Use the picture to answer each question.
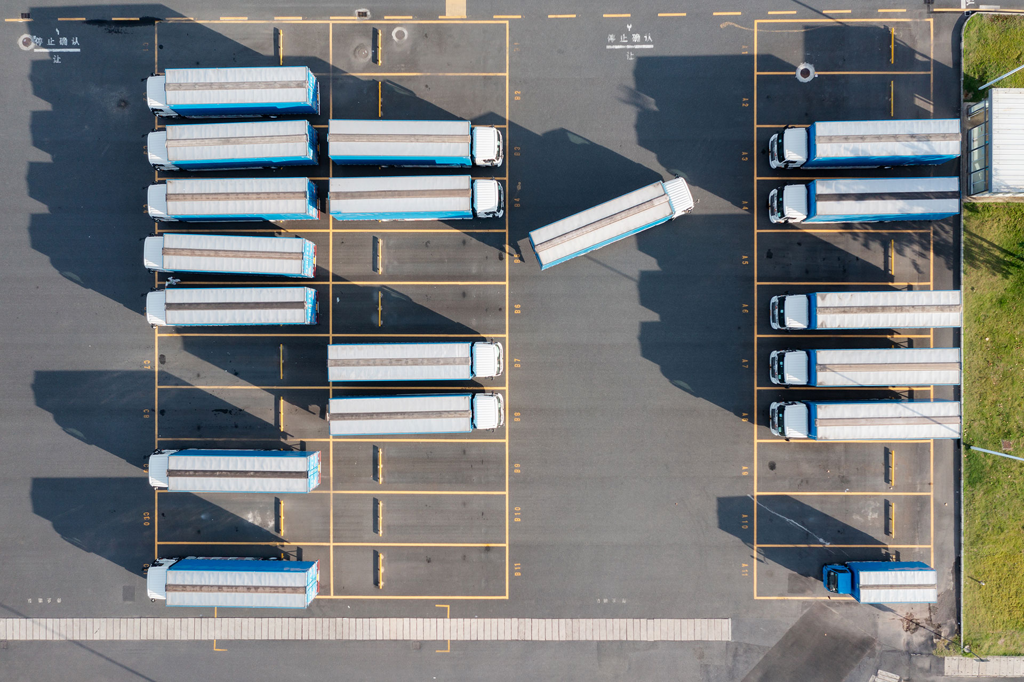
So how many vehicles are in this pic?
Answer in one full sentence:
Altogether the scene contains 18 vehicles.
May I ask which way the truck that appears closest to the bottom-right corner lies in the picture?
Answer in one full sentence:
Seen from above, the truck that appears closest to the bottom-right corner lies horizontally.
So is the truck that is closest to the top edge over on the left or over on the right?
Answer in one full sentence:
It is on the left.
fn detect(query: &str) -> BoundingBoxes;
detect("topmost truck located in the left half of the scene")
[140,66,321,119]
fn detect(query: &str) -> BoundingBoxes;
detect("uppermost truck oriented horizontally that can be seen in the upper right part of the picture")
[768,118,961,168]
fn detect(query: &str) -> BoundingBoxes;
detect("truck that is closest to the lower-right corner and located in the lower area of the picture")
[822,561,937,603]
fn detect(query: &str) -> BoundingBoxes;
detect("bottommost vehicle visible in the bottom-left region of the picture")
[141,557,320,608]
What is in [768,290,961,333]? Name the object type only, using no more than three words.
truck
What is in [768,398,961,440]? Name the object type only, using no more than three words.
truck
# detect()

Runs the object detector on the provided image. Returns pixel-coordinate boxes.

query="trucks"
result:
[327,340,508,381]
[768,398,961,440]
[141,557,320,608]
[328,175,508,221]
[141,177,321,224]
[768,346,961,388]
[768,118,961,168]
[328,119,507,167]
[768,290,961,333]
[768,177,960,223]
[526,172,702,270]
[140,66,321,119]
[138,232,317,278]
[140,286,320,328]
[822,561,937,603]
[329,390,509,435]
[142,448,322,493]
[141,120,321,172]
